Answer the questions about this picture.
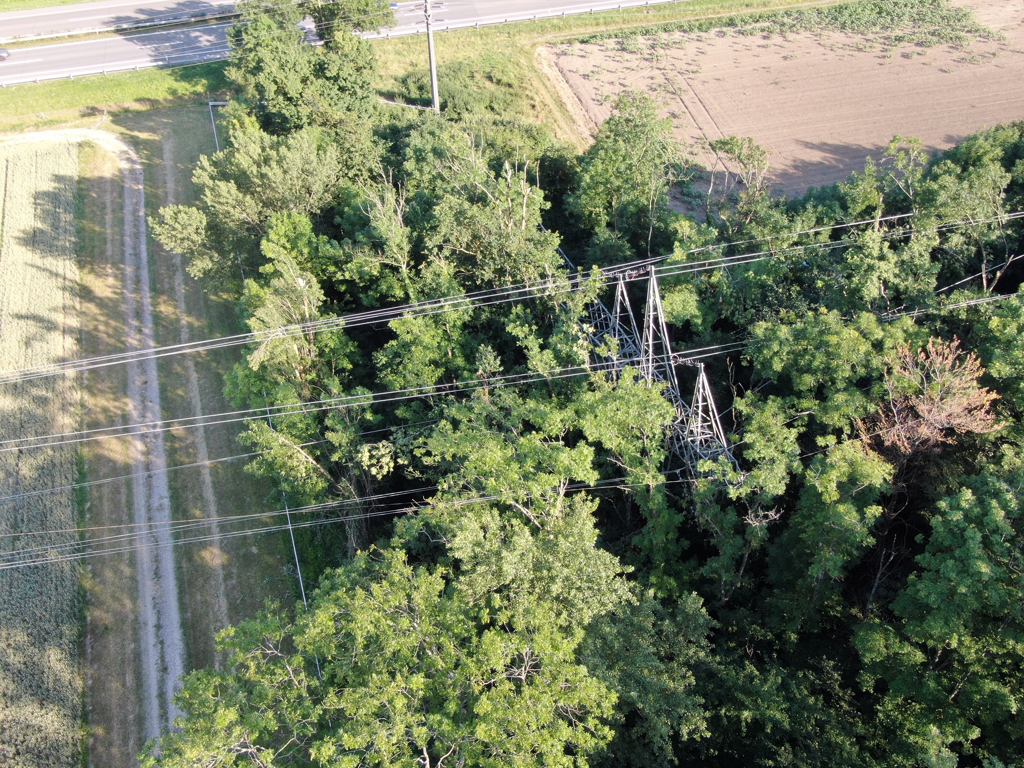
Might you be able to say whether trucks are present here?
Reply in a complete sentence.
No, the scene contains no truck.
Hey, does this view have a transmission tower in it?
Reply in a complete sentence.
Yes, the image includes a transmission tower.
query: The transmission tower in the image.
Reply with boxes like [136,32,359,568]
[528,229,754,510]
